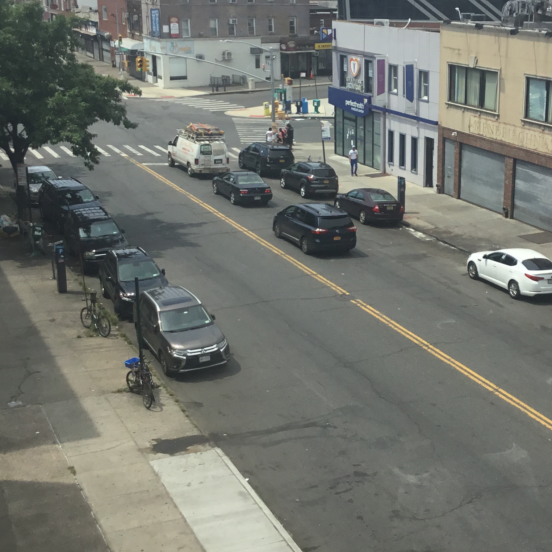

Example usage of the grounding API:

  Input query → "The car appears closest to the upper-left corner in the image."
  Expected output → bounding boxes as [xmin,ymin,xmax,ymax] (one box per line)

[20,167,62,204]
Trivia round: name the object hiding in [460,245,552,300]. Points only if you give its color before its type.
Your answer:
white car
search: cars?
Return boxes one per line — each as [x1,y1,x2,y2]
[20,167,62,204]
[92,243,171,314]
[210,170,271,206]
[270,201,355,254]
[60,204,129,269]
[460,245,552,300]
[278,159,340,197]
[330,185,405,224]
[135,286,233,378]
[234,137,293,174]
